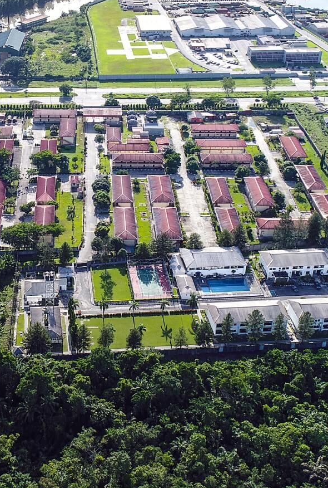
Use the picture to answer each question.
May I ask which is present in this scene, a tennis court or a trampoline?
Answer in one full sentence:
The image shows a tennis court.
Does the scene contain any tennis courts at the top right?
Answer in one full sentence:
No, no tennis court is visible at the top right.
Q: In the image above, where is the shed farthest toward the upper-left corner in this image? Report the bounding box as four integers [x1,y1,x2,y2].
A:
[0,27,23,64]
